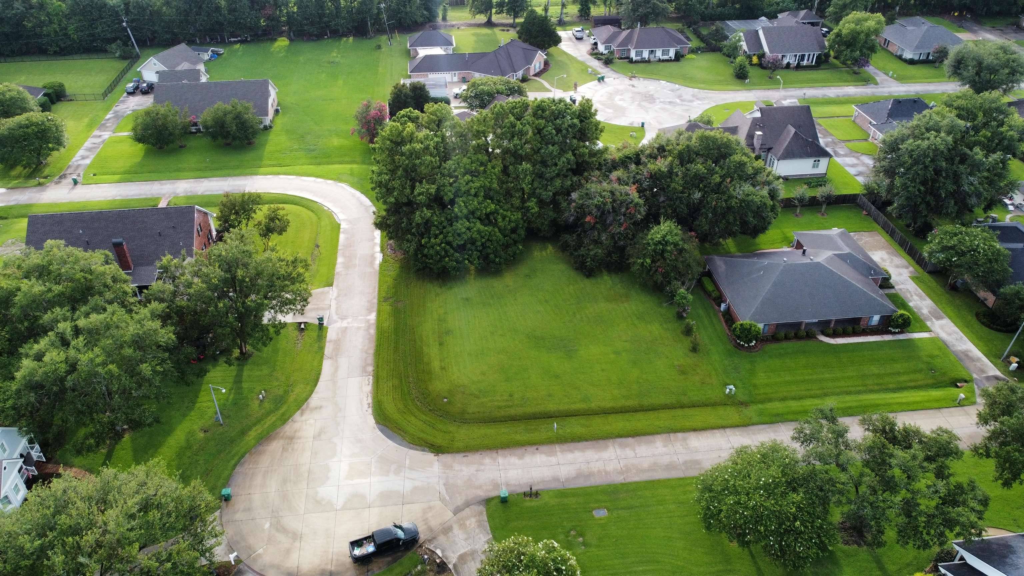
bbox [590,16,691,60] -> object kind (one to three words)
house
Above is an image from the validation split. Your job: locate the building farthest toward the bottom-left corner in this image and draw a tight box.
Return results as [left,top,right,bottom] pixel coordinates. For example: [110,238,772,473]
[0,434,68,524]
